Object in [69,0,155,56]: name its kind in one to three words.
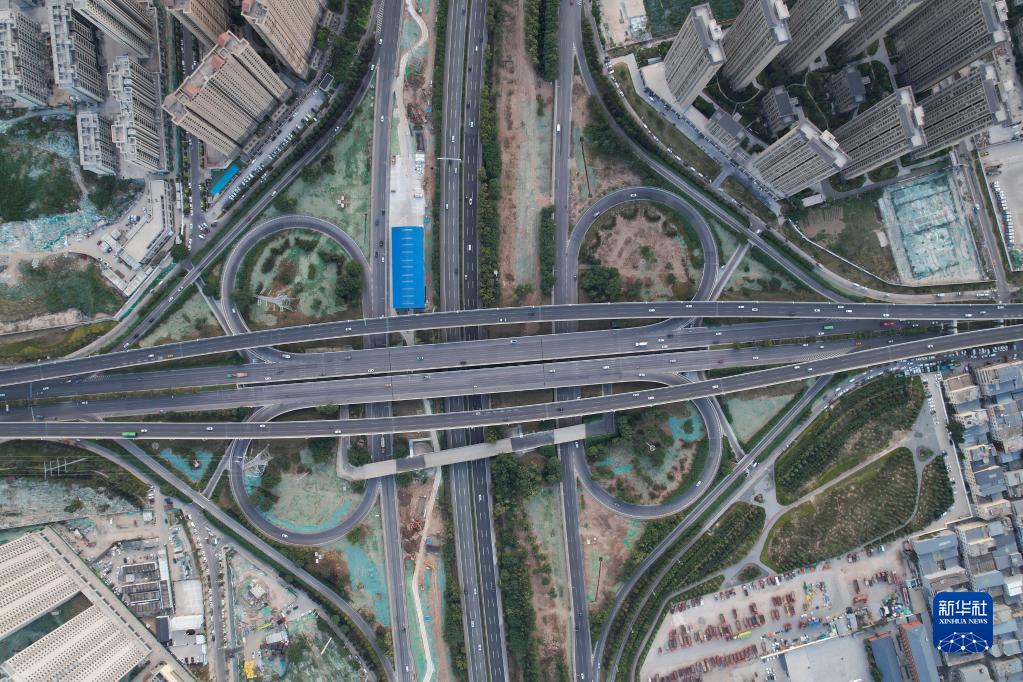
building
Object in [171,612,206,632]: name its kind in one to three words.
shed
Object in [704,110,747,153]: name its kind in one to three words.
house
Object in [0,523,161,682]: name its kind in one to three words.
warehouse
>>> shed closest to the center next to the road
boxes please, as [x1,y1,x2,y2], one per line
[392,226,427,309]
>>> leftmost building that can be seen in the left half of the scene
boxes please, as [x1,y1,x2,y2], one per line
[0,9,50,108]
